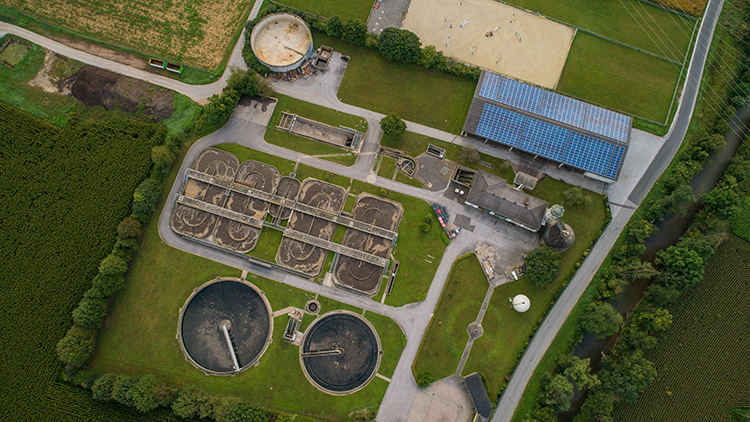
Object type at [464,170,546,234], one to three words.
building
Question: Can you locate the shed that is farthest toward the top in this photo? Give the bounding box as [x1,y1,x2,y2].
[513,171,538,192]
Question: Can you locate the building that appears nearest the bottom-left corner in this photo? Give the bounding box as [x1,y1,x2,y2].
[282,310,300,344]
